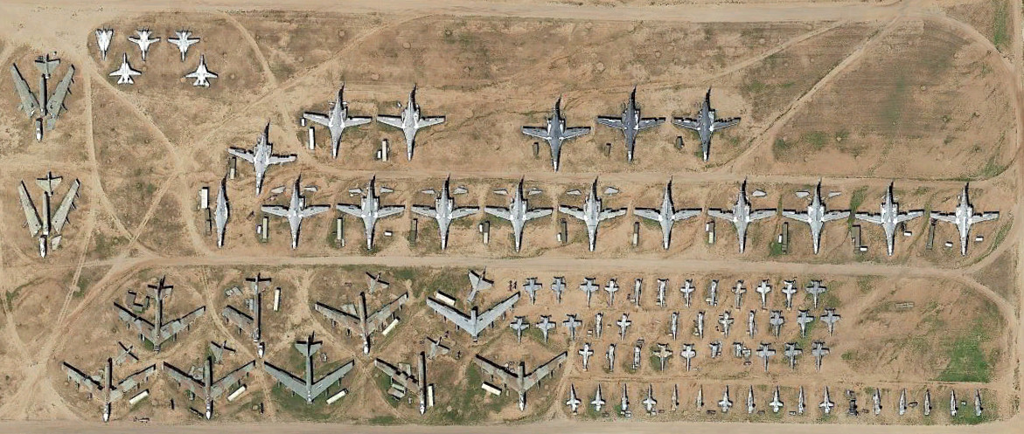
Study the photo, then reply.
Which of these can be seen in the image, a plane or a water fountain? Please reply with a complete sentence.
I can see a plane in this picture.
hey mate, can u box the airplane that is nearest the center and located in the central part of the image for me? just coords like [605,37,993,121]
[485,182,553,252]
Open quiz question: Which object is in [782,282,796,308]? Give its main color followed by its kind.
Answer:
white airplane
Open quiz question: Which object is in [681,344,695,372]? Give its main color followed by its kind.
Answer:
white airplane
